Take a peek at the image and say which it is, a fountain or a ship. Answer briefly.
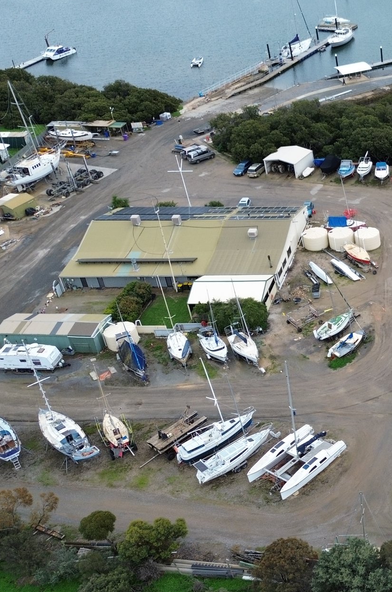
ship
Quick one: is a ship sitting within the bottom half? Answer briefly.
Yes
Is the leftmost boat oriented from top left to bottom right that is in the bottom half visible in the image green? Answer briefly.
No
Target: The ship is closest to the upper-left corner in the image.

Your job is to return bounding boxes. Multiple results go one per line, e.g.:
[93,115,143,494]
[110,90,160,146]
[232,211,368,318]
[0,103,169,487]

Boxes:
[43,42,78,64]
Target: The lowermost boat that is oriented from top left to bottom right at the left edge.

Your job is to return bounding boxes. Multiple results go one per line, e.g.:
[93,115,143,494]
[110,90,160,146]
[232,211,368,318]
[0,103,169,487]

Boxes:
[17,340,94,471]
